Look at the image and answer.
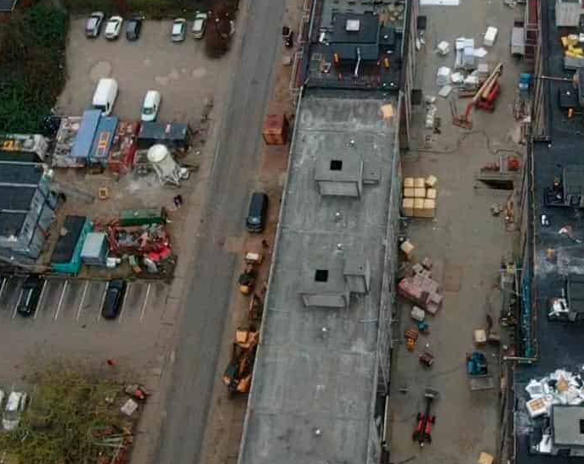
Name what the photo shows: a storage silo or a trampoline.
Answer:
storage silo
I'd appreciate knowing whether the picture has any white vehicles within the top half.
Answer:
Yes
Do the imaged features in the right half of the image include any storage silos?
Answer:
No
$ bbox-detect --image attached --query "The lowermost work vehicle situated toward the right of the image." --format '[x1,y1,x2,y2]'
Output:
[410,381,438,448]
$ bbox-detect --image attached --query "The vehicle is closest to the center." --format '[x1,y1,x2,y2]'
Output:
[242,188,268,231]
